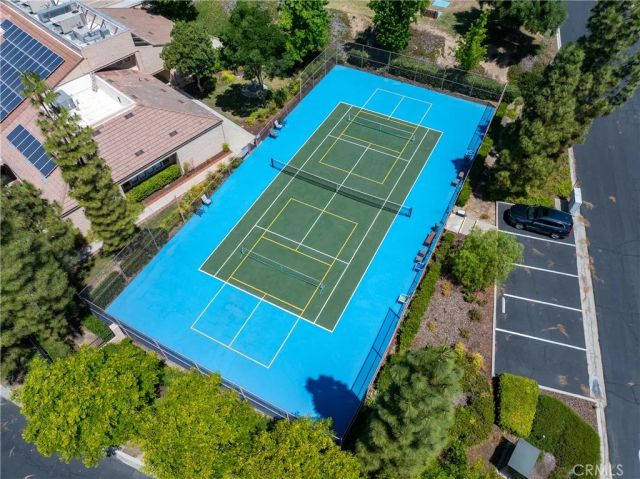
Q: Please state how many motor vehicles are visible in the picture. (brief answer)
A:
1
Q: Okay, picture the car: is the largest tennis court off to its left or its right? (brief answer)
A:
to its left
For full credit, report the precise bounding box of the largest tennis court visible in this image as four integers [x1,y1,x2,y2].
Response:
[99,64,496,443]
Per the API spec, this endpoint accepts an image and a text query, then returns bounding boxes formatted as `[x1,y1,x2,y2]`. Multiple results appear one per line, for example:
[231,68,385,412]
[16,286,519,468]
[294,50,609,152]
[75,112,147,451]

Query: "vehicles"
[508,203,577,239]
